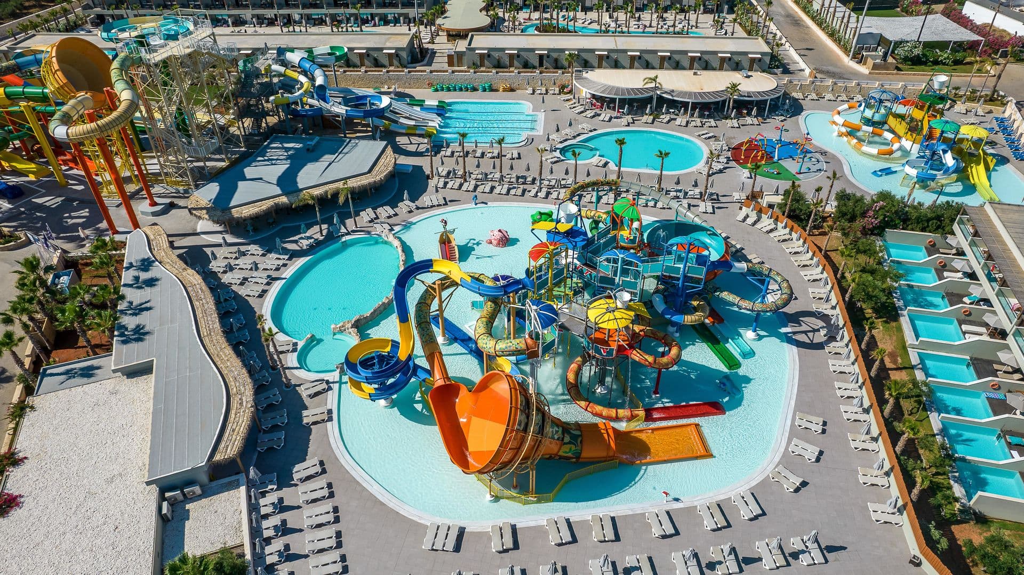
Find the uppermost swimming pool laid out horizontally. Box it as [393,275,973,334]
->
[524,23,703,36]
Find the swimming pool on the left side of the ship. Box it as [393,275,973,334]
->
[270,235,393,374]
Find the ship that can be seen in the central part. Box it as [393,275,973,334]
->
[430,208,461,261]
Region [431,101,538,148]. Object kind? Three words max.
swimming pool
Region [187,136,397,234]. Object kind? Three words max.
building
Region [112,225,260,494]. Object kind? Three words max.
building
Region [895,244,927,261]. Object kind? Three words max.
swimming pool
